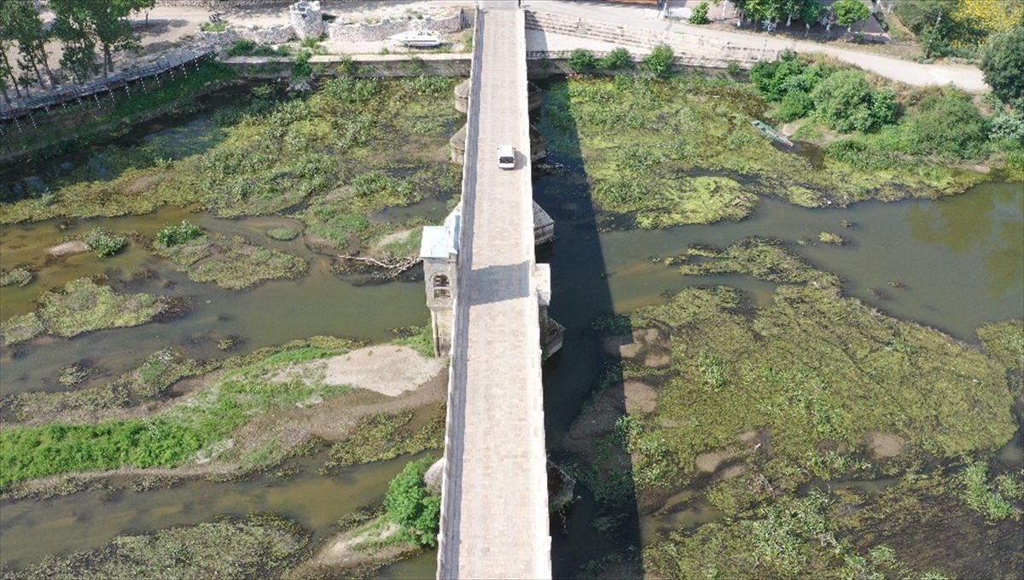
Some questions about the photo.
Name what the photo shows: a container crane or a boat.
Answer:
boat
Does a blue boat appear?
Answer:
No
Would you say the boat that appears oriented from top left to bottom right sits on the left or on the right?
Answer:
right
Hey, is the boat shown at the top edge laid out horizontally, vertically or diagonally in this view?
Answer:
horizontally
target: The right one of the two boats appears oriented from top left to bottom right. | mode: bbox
[752,118,794,145]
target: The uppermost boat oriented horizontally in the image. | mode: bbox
[388,29,446,49]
